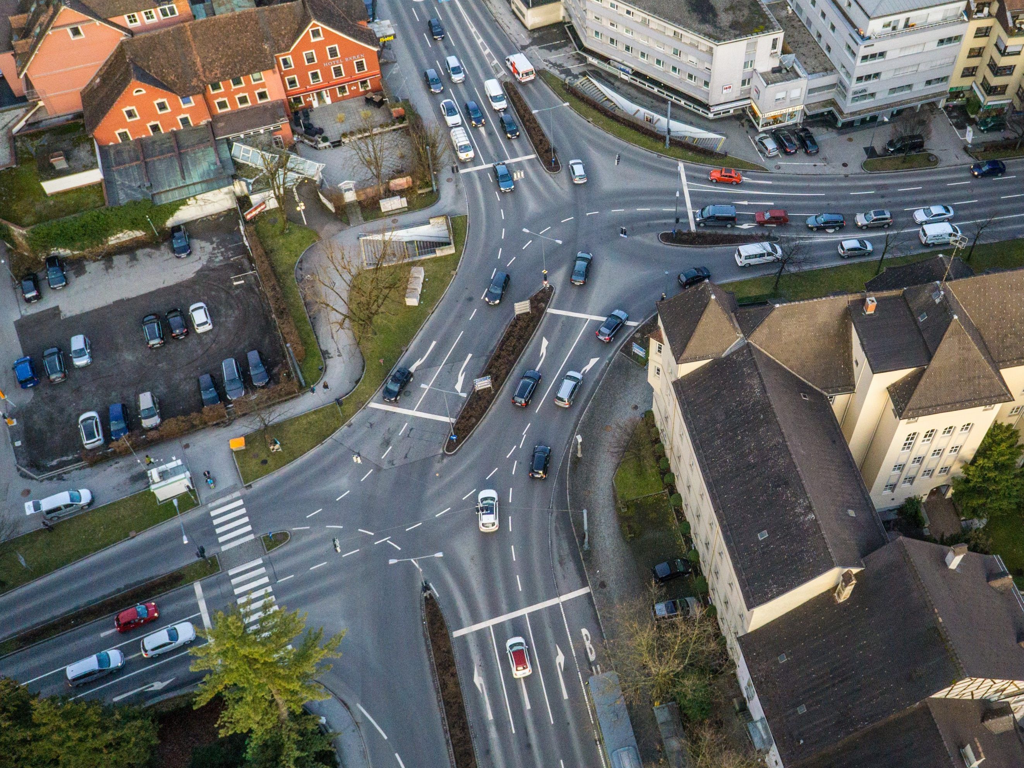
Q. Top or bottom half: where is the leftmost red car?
bottom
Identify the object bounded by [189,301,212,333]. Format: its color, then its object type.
white car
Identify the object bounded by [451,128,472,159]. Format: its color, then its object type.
white car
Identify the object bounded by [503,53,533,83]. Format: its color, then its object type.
white van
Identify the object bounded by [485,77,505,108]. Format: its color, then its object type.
white vehicle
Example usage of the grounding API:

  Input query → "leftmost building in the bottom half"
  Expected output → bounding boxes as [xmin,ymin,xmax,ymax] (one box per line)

[141,446,189,501]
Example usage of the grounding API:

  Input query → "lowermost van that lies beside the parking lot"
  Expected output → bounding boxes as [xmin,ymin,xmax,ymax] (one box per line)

[28,488,91,518]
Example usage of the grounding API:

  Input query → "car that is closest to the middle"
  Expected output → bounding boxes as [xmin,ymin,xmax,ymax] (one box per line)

[510,368,540,407]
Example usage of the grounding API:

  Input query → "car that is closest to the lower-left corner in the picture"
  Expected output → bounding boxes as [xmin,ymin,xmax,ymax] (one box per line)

[68,652,123,686]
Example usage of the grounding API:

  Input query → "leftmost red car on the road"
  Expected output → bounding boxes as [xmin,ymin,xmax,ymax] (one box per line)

[113,603,159,634]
